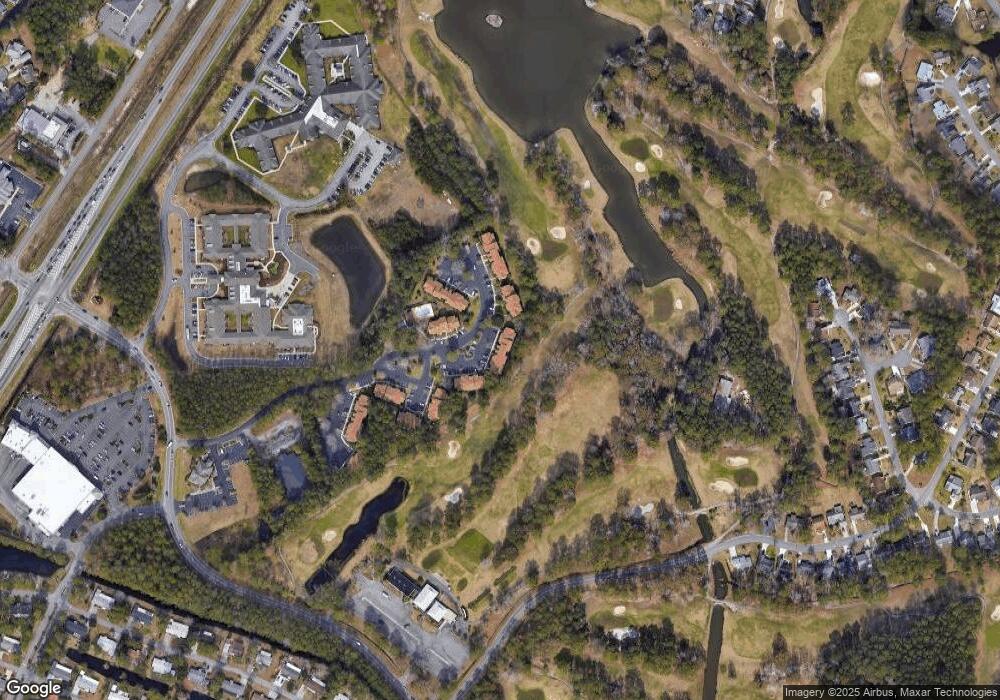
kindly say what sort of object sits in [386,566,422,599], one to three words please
barn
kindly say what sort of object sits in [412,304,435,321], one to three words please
swimming pool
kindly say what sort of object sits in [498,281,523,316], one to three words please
building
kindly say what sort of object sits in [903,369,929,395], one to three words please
house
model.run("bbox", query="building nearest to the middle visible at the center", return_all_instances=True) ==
[486,326,520,375]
